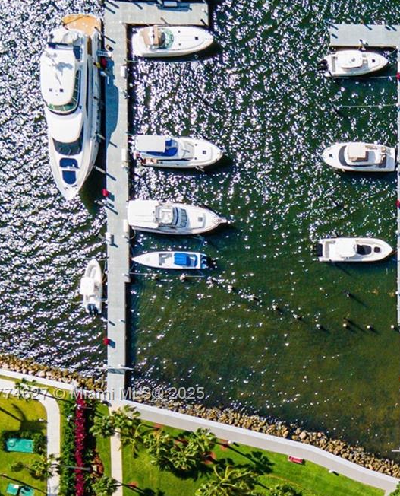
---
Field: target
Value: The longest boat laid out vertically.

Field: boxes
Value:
[40,13,104,199]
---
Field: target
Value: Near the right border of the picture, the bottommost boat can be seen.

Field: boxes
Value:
[316,238,393,262]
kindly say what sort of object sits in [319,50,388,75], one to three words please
boat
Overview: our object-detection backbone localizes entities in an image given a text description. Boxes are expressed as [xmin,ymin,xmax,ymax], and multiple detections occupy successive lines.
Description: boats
[316,238,393,262]
[40,13,104,199]
[81,259,106,313]
[132,25,214,55]
[132,136,223,167]
[322,142,398,172]
[133,251,209,269]
[319,50,388,75]
[128,200,229,233]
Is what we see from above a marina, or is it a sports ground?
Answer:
marina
